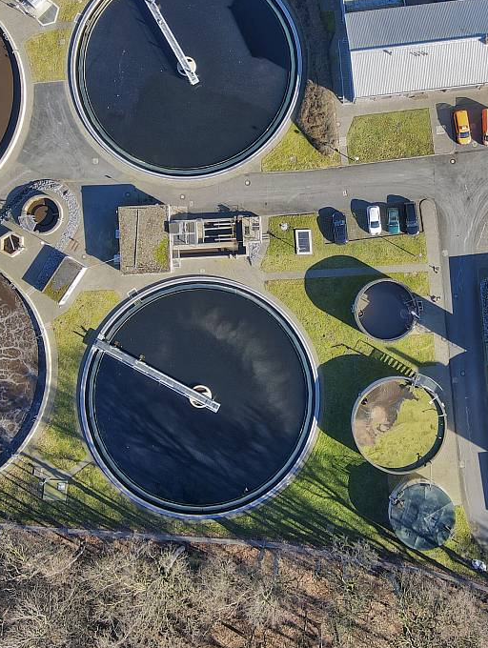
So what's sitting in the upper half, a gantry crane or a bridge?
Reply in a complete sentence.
The feature located in the upper half is a bridge.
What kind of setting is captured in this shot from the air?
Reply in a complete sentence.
What you see here is an industrial area.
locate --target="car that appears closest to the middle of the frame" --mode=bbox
[330,210,347,243]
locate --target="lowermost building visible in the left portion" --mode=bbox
[42,256,89,305]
